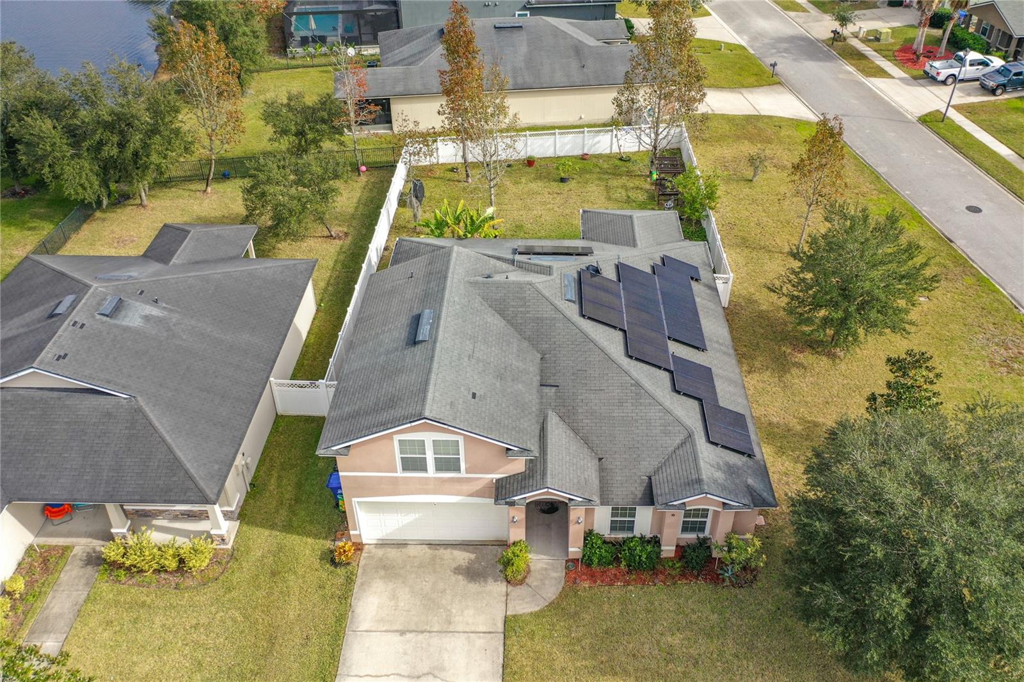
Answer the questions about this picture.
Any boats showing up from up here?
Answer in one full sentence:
No, no boat is visible in the scene.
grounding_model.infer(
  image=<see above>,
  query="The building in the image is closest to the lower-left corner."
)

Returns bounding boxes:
[0,224,319,604]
